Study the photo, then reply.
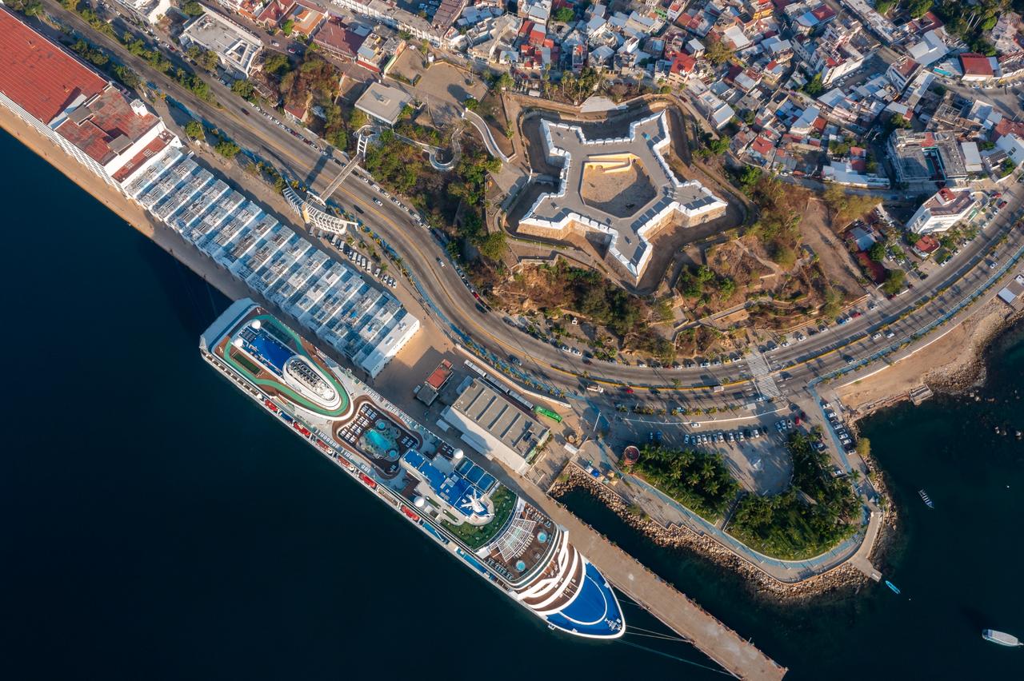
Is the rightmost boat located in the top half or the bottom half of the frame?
bottom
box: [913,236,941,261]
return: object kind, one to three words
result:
house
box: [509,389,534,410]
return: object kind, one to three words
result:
bus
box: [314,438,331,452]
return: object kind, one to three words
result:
boat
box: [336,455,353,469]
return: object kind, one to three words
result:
boat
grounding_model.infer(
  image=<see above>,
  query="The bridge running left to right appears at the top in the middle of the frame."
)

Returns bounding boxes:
[516,171,566,188]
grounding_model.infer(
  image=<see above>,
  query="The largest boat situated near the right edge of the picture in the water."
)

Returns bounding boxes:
[981,627,1022,647]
